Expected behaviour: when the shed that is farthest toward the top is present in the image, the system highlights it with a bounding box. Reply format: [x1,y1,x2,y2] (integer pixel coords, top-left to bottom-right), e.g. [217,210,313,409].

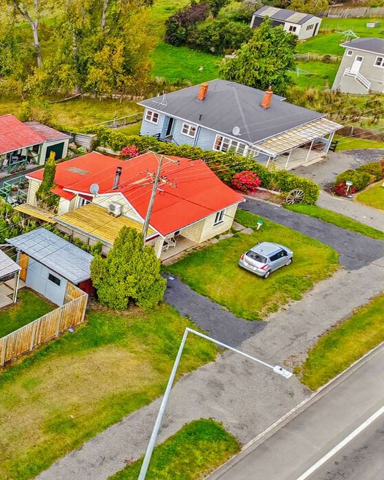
[251,2,323,37]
